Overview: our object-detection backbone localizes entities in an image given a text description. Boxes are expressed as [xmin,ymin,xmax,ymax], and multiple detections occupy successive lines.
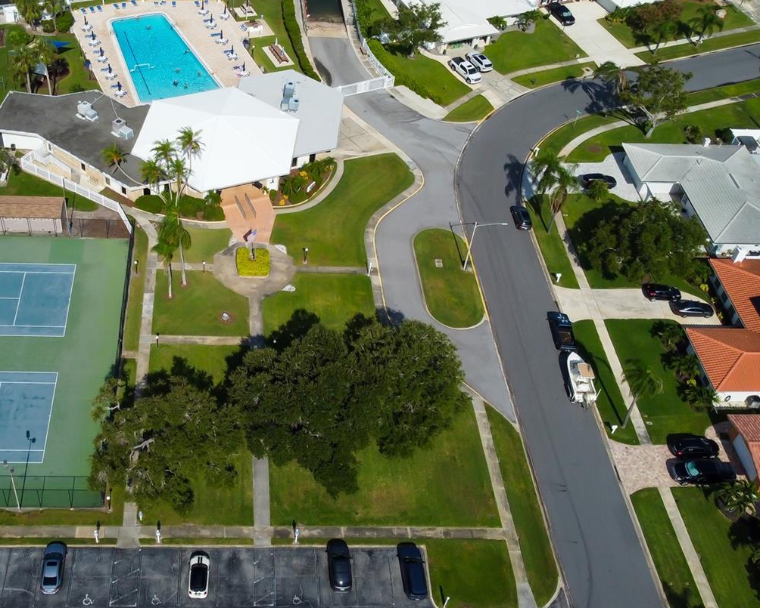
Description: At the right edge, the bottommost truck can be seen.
[674,459,739,485]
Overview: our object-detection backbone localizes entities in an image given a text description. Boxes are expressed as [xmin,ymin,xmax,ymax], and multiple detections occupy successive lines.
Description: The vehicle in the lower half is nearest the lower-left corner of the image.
[40,540,66,593]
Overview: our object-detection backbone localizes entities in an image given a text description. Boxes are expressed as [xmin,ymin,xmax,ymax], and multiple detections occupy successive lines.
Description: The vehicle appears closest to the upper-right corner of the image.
[550,1,576,22]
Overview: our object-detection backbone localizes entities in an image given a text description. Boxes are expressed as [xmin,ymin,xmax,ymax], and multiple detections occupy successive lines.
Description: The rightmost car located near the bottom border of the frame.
[397,543,431,599]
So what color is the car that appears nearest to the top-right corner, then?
black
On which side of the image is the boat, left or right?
right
